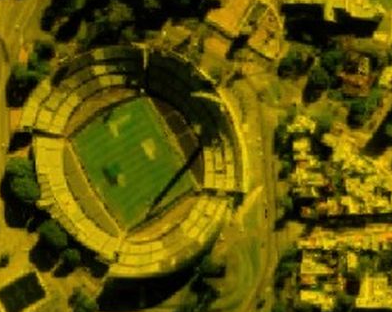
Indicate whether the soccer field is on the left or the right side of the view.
left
